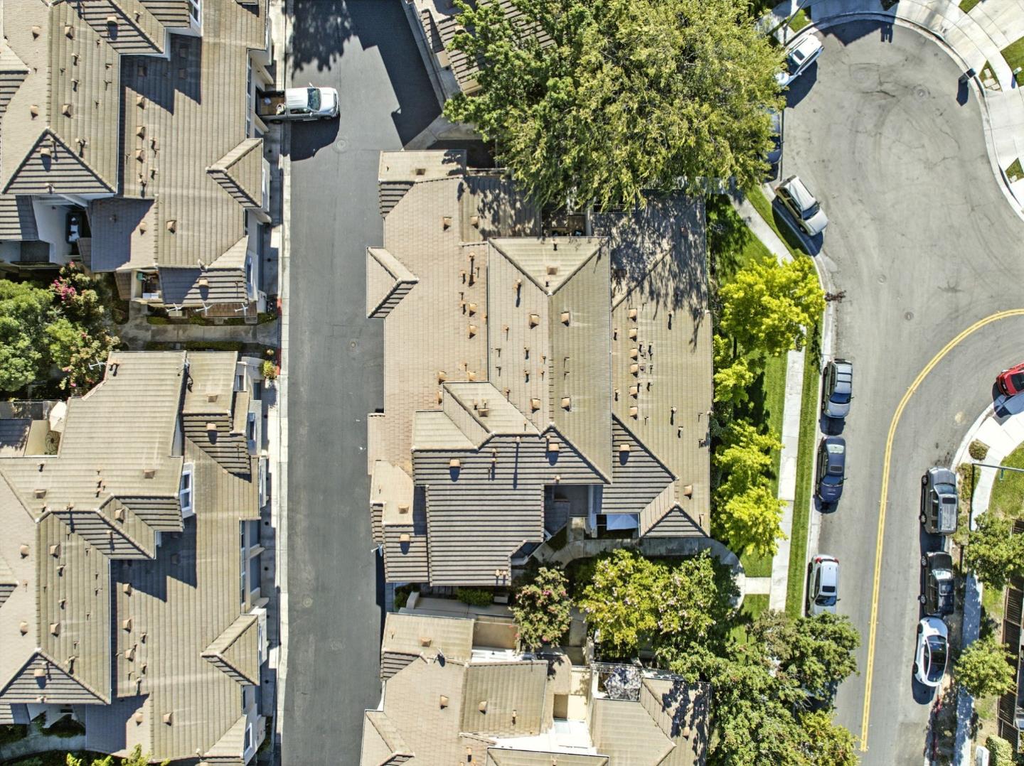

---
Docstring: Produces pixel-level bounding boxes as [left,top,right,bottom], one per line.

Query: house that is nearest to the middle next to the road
[365,148,713,587]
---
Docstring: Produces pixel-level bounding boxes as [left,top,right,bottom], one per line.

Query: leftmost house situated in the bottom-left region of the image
[0,350,277,766]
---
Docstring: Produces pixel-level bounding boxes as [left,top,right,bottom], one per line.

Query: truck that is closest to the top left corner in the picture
[262,85,340,121]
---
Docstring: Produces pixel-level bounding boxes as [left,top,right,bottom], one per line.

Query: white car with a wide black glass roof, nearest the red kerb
[908,616,945,684]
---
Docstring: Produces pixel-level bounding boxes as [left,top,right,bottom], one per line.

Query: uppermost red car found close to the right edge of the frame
[996,358,1024,392]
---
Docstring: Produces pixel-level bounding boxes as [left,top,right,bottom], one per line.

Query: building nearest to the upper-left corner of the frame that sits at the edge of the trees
[0,0,282,318]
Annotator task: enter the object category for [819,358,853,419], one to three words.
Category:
car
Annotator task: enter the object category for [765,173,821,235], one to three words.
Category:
car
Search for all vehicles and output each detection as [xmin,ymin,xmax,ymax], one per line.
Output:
[780,36,825,93]
[765,173,821,235]
[908,616,945,684]
[819,358,853,419]
[996,358,1024,392]
[262,85,340,121]
[916,467,954,533]
[914,550,952,612]
[804,553,838,612]
[813,435,847,501]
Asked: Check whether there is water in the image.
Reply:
No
